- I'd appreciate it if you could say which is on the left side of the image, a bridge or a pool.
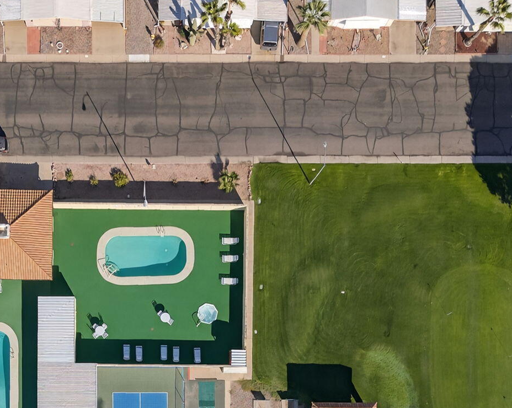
pool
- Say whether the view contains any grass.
Yes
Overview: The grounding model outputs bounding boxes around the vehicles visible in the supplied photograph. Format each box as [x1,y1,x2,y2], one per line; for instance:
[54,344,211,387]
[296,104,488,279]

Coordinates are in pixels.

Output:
[262,19,280,49]
[0,136,8,155]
